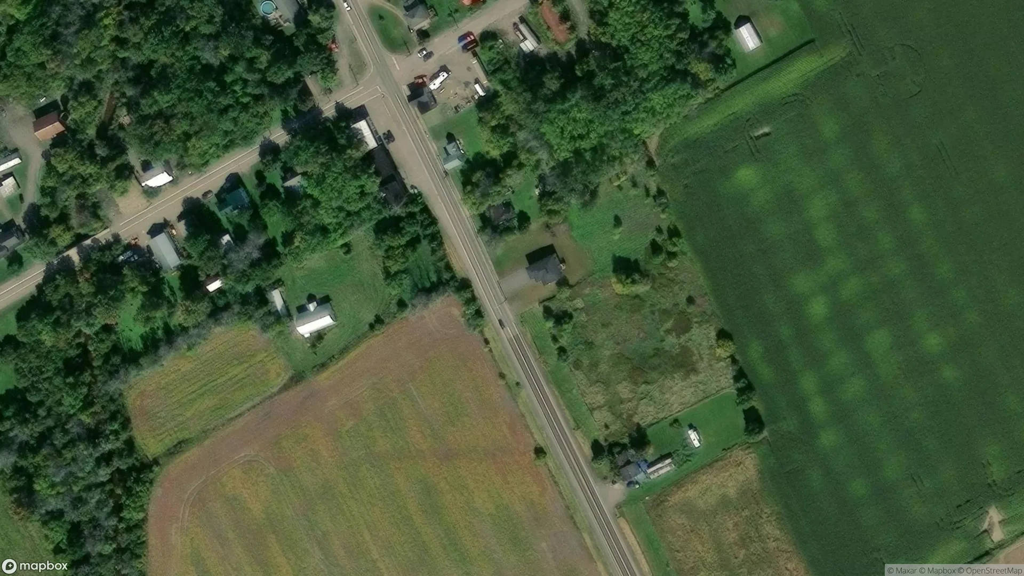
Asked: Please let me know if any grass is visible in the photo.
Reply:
Yes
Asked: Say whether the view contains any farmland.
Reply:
Yes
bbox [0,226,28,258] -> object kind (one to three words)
house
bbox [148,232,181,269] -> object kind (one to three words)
shed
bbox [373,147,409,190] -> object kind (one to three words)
building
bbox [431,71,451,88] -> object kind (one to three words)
camper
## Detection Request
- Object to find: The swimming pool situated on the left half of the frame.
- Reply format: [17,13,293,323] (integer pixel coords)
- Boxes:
[261,1,276,16]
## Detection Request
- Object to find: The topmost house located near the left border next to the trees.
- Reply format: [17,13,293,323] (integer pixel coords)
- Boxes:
[33,111,67,141]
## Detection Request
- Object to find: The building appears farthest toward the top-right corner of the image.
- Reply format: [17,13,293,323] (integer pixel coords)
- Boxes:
[736,23,761,52]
